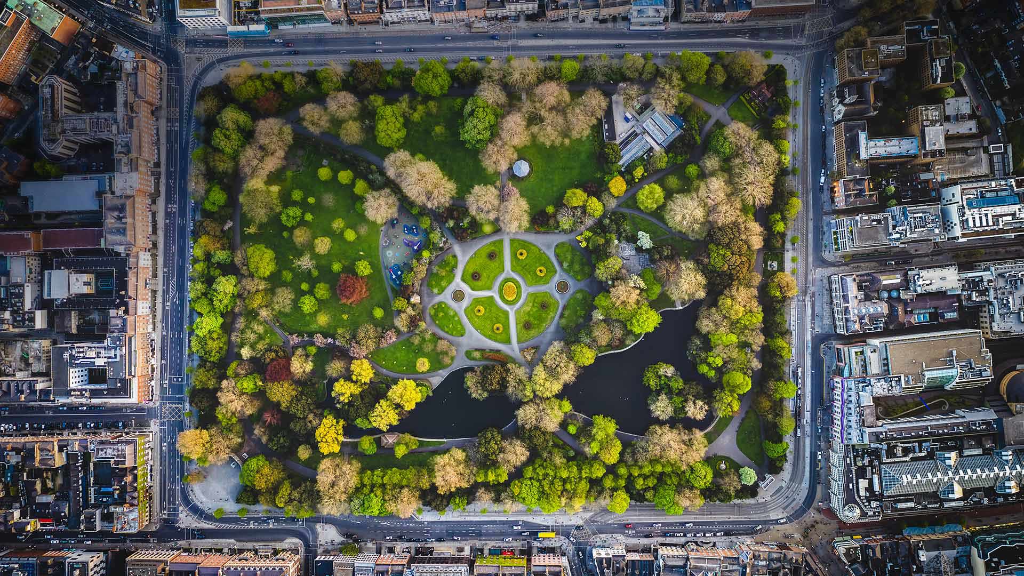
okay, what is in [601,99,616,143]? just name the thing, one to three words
shed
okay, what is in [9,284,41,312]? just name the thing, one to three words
building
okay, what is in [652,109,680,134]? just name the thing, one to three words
greenhouse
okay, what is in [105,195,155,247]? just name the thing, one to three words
house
